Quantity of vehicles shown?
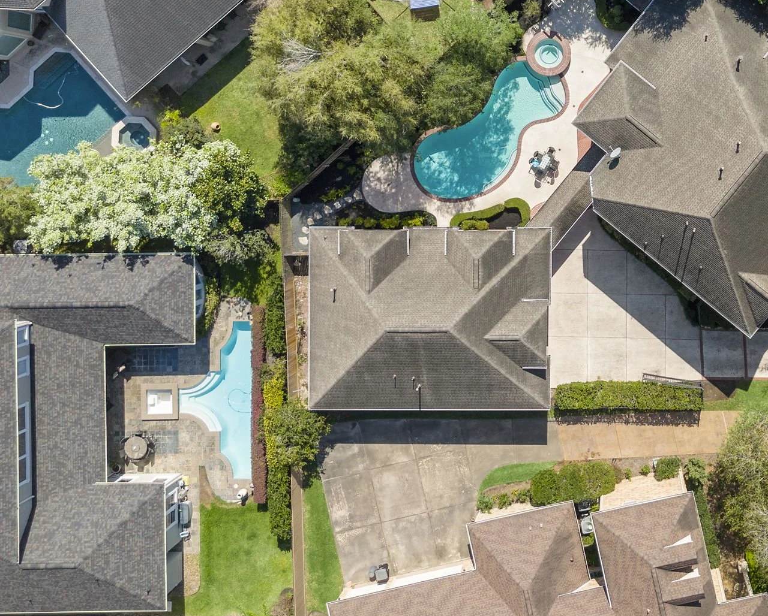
0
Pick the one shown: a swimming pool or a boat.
swimming pool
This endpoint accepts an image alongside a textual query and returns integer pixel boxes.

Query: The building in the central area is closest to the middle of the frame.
[307,224,553,411]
